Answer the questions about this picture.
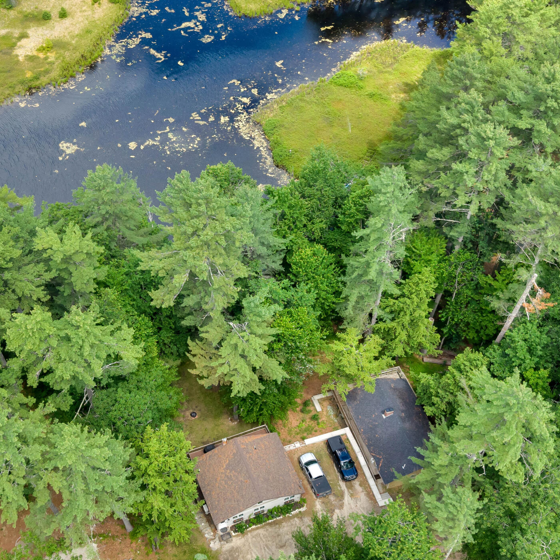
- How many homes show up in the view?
2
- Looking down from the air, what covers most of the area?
trees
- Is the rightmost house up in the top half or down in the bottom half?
bottom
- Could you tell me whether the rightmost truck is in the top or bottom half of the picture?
bottom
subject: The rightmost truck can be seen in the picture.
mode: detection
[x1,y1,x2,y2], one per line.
[324,435,360,484]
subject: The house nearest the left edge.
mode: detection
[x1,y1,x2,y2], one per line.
[184,427,305,538]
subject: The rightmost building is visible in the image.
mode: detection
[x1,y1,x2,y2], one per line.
[332,368,451,499]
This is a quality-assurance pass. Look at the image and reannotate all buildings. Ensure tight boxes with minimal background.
[332,368,451,499]
[184,427,305,538]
